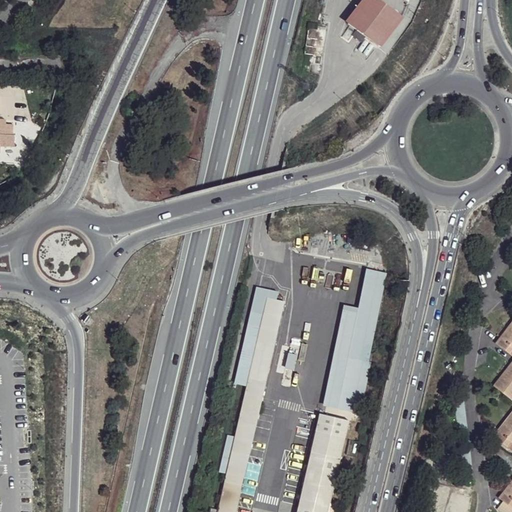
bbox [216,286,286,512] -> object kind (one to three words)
building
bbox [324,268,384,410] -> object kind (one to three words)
building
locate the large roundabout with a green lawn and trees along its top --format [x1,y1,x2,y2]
[385,72,512,208]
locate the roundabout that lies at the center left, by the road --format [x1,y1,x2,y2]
[14,206,112,304]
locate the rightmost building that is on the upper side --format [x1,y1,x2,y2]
[348,0,404,46]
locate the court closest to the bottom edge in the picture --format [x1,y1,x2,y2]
[434,486,470,512]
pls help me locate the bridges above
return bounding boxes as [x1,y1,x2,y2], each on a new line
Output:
[166,166,306,238]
